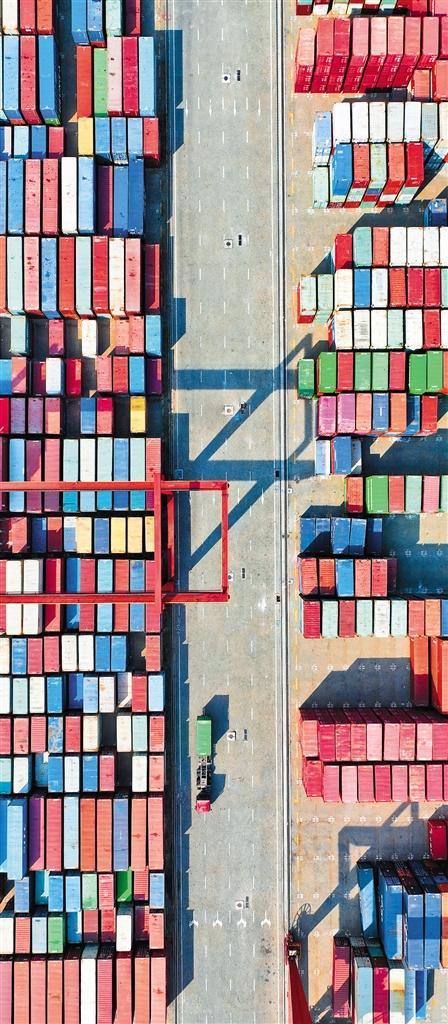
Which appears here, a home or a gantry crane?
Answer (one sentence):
The image shows a gantry crane.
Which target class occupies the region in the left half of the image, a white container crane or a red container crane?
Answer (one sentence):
The feature located in the left half of the image is a red container crane.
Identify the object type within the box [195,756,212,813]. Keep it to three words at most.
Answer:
vehicle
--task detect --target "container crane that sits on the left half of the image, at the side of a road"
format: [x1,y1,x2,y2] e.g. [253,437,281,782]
[0,474,232,614]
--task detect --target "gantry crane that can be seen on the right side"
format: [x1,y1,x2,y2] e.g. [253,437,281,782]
[285,926,312,1024]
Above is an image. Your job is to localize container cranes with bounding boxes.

[285,926,312,1024]
[0,474,232,614]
